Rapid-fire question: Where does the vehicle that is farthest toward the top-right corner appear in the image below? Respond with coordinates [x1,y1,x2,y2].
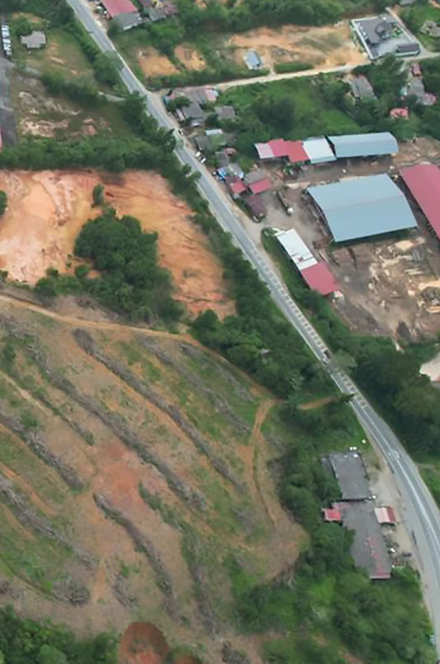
[274,187,293,212]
